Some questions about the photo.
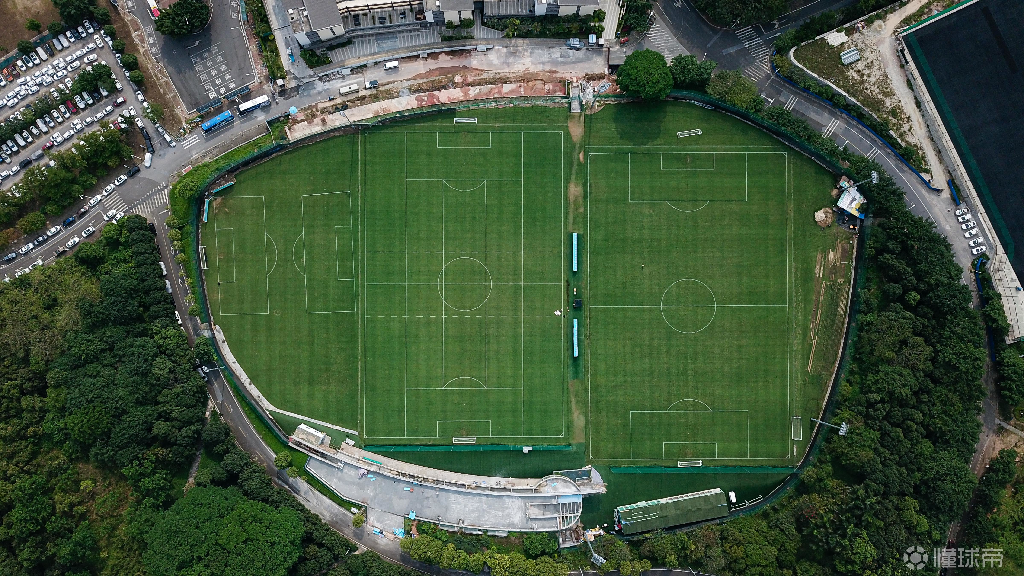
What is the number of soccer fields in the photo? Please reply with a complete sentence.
Looking from above, you can make out 3 soccer fields.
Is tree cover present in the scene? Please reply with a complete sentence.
Yes, the picture does contain tree cover.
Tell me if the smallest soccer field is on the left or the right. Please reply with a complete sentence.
The smallest soccer field is on the left side of the image.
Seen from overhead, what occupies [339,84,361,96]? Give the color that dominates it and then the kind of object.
white vehicle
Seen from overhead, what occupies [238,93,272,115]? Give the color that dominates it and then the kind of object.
white bus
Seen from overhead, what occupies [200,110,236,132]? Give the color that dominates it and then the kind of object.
blue bus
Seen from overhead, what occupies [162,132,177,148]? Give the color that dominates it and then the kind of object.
white car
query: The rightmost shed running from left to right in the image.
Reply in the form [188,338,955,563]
[616,487,728,534]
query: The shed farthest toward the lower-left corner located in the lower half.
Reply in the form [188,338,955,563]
[292,422,329,447]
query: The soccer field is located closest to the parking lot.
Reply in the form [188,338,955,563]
[208,127,358,432]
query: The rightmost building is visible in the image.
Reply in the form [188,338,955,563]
[891,0,1024,292]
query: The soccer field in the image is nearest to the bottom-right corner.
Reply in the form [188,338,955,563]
[586,145,800,471]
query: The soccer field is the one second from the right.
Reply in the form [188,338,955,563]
[359,114,571,445]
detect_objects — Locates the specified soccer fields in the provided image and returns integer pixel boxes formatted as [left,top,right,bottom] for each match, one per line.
[586,145,800,471]
[208,127,358,432]
[359,114,571,445]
